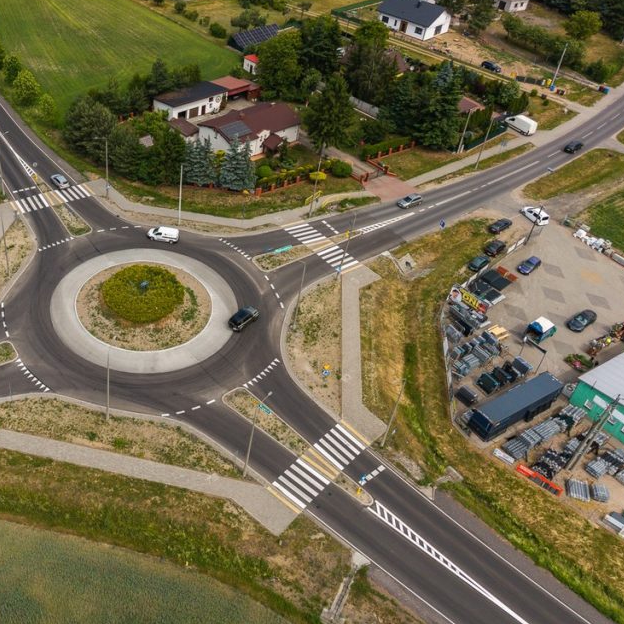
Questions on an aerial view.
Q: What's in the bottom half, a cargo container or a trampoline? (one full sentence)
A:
The one visible in the bottom half is a cargo container.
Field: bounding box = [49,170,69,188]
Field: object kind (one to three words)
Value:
car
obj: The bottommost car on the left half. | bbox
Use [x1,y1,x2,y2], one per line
[227,303,263,327]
